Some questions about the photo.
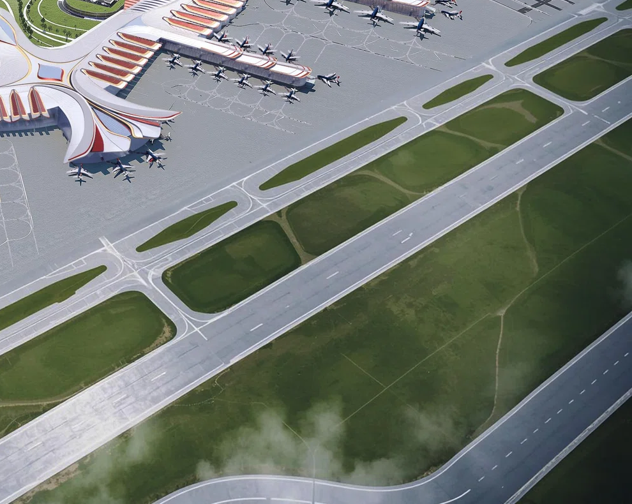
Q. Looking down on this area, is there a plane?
Yes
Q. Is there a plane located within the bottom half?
No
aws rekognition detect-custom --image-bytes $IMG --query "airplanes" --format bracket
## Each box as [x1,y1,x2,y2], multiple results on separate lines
[281,48,297,60]
[162,116,186,129]
[114,158,135,172]
[357,5,394,22]
[184,61,206,72]
[401,17,440,34]
[278,89,300,101]
[233,74,251,86]
[259,40,276,54]
[209,67,230,79]
[163,54,183,65]
[146,151,166,164]
[68,164,92,180]
[314,0,350,10]
[218,28,233,42]
[254,80,275,92]
[236,34,256,48]
[317,73,341,84]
